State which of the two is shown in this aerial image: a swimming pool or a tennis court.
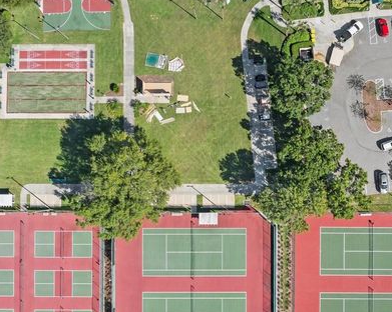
tennis court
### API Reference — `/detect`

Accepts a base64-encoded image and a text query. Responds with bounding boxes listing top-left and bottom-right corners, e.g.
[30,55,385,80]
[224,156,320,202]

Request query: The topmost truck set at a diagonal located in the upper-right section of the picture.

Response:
[336,20,365,43]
